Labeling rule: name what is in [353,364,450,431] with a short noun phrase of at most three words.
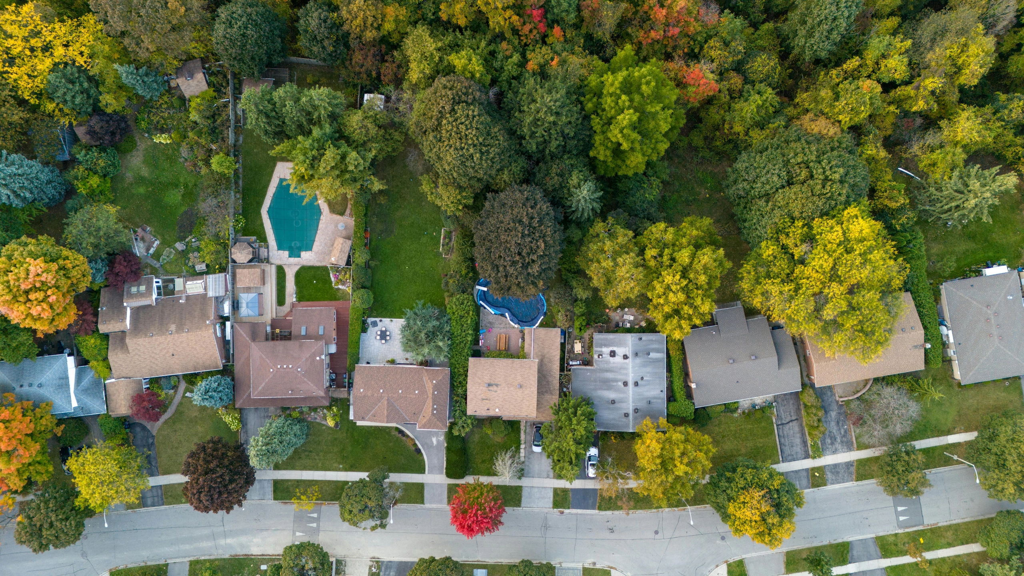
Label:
house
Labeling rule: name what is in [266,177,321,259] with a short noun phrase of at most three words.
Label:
swimming pool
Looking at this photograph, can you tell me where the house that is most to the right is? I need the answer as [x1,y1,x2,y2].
[936,265,1024,385]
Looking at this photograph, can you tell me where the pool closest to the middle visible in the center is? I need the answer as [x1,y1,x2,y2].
[475,276,547,329]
